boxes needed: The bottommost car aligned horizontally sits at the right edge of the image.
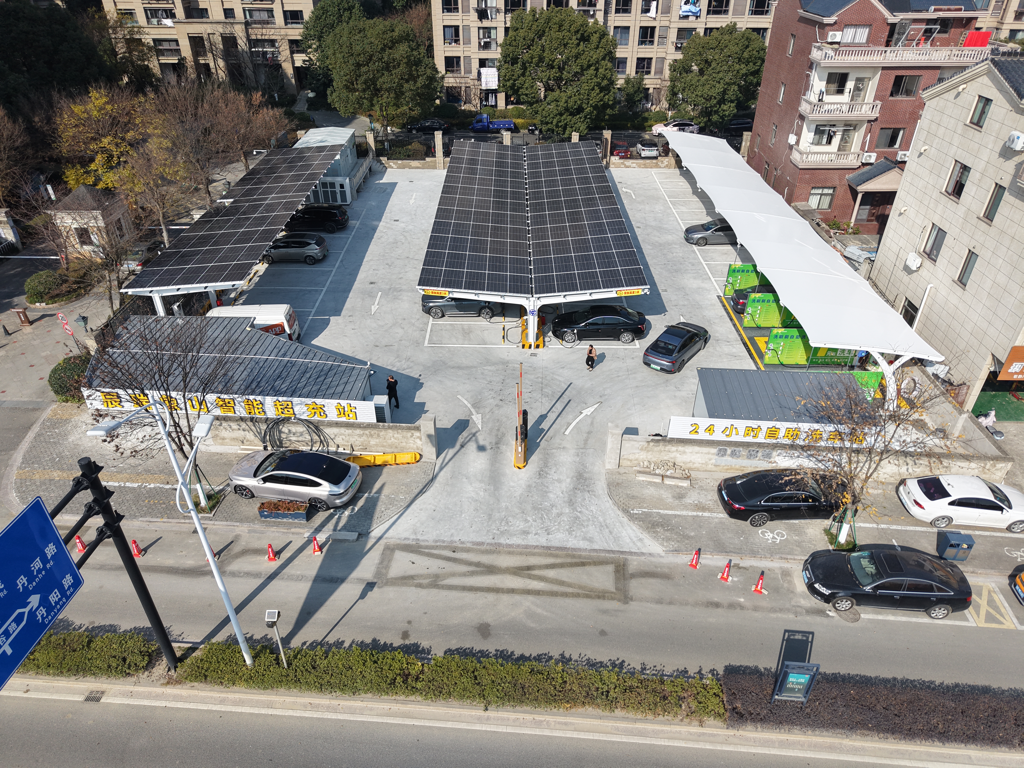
[799,543,979,621]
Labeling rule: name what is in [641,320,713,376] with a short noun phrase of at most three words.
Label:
car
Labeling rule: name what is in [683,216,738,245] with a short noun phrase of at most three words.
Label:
car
